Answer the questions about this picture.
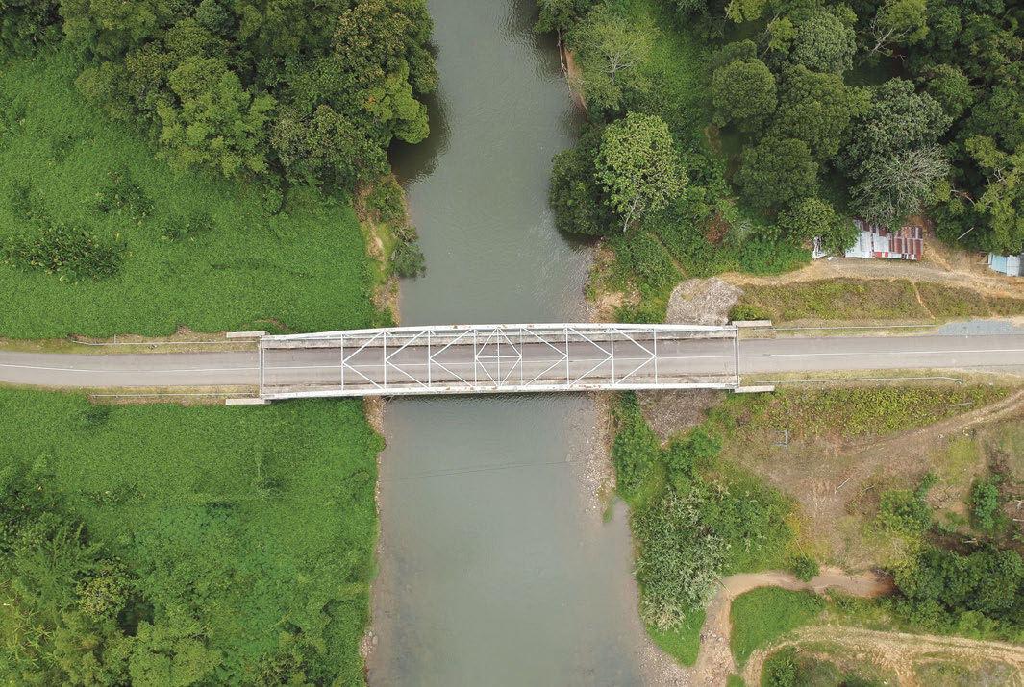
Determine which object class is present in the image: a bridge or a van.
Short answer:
bridge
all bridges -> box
[224,321,775,403]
